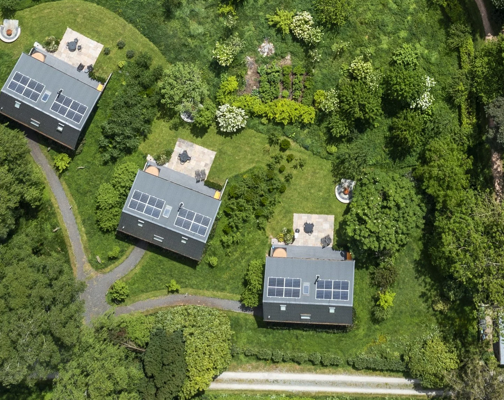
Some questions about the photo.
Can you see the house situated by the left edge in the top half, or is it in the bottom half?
top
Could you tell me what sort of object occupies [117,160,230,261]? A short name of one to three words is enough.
house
